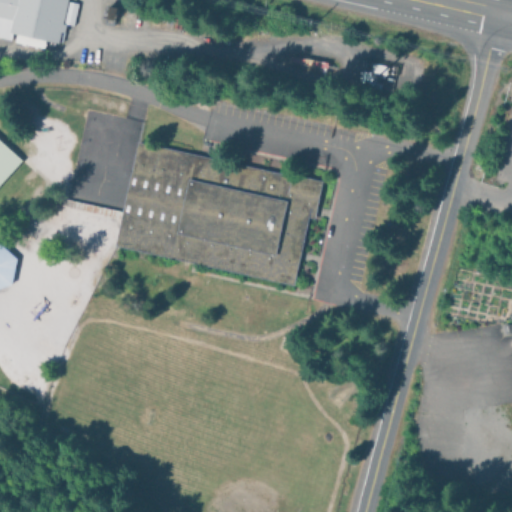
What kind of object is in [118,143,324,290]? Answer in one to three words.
building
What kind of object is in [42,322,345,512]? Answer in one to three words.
sports field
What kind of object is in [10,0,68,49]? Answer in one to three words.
building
